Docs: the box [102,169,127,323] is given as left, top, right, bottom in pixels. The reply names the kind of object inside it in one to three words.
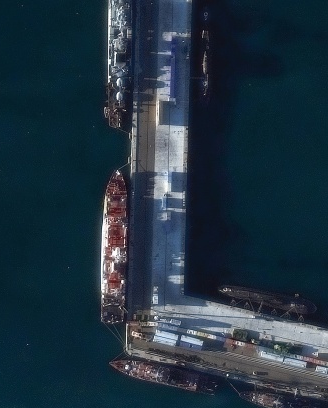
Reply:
ship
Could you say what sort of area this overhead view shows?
port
